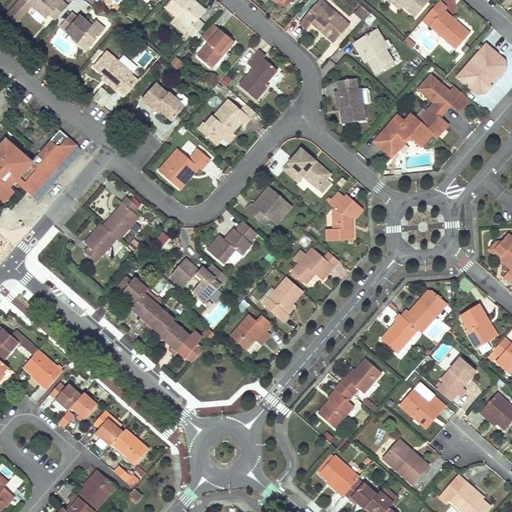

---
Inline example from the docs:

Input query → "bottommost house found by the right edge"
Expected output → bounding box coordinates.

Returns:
[438,476,495,512]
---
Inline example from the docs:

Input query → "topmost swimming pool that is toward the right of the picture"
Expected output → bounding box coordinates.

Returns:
[420,31,436,50]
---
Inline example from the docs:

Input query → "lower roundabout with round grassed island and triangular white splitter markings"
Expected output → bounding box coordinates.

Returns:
[172,402,266,505]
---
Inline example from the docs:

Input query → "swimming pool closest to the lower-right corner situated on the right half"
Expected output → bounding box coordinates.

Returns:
[432,342,453,361]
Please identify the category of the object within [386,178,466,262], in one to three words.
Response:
roundabout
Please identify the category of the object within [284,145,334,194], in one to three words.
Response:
house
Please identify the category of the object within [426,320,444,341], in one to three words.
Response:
swimming pool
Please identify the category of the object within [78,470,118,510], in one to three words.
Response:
house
